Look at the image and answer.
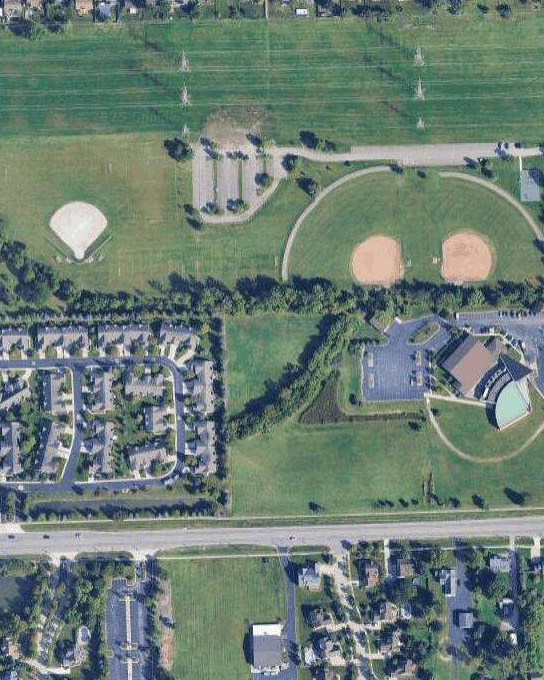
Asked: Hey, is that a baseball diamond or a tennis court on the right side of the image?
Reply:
baseball diamond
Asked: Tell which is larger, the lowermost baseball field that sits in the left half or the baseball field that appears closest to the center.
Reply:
the baseball field that appears closest to the center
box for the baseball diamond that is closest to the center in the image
[288,173,422,288]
